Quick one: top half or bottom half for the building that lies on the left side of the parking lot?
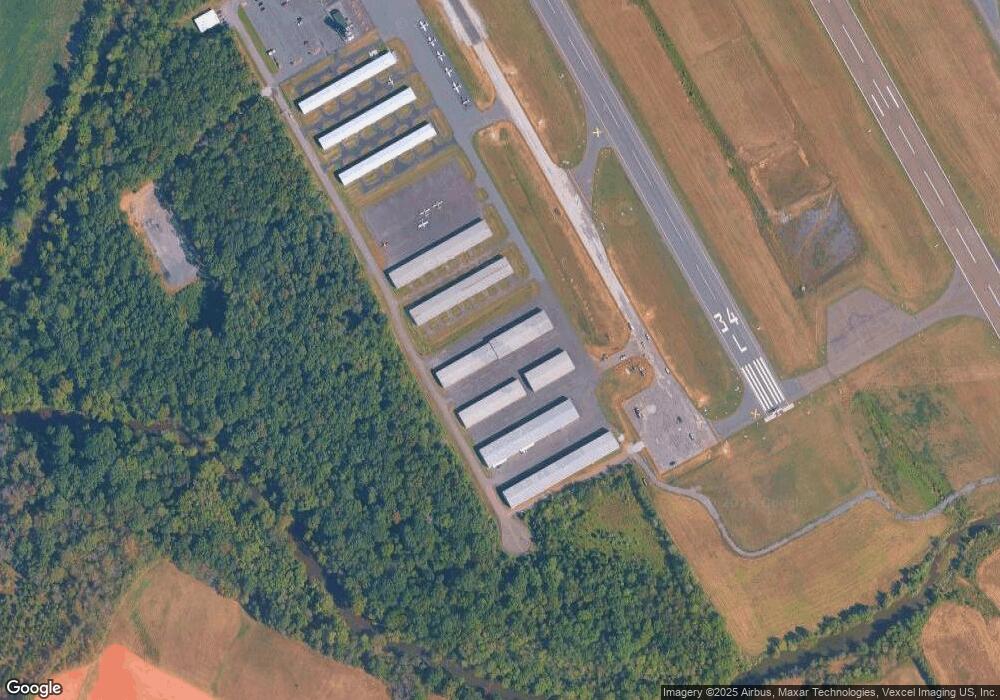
top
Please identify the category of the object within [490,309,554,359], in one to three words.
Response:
hangar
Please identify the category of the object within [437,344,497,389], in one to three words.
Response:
hangar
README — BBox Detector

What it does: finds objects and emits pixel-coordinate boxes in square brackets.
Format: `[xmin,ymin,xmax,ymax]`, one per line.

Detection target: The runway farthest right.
[810,0,1000,335]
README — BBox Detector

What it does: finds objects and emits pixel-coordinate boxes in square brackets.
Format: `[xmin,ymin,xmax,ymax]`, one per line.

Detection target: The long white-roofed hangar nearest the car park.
[298,50,396,114]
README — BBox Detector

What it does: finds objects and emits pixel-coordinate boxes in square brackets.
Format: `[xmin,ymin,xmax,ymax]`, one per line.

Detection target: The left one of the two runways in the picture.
[528,0,793,420]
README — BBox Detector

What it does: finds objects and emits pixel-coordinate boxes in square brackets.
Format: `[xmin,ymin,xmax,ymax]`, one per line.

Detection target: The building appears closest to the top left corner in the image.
[194,9,220,32]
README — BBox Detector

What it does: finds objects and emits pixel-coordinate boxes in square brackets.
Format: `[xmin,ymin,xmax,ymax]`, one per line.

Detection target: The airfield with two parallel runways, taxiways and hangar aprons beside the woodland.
[284,0,1000,495]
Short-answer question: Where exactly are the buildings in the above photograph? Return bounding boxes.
[298,50,396,114]
[318,87,416,151]
[503,432,619,509]
[479,399,580,469]
[409,257,513,326]
[194,9,220,32]
[338,123,437,185]
[389,220,493,289]
[524,350,575,391]
[437,344,497,389]
[490,309,554,359]
[458,379,526,429]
